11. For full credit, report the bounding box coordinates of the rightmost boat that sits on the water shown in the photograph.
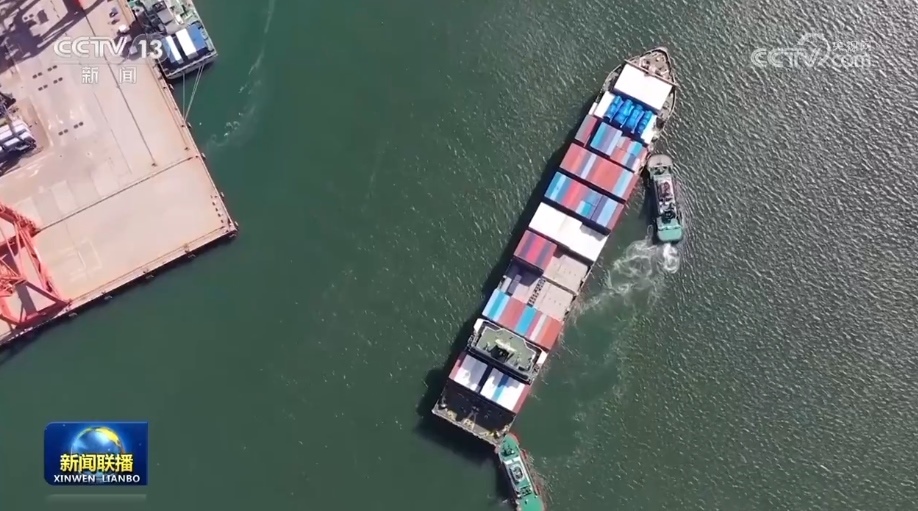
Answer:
[645,154,681,240]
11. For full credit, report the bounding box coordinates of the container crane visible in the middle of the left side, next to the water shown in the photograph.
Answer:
[0,202,74,332]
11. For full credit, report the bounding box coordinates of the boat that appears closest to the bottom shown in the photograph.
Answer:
[498,433,545,511]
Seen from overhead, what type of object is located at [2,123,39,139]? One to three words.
vehicle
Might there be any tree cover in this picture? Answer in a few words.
No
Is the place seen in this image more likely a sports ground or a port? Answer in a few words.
port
